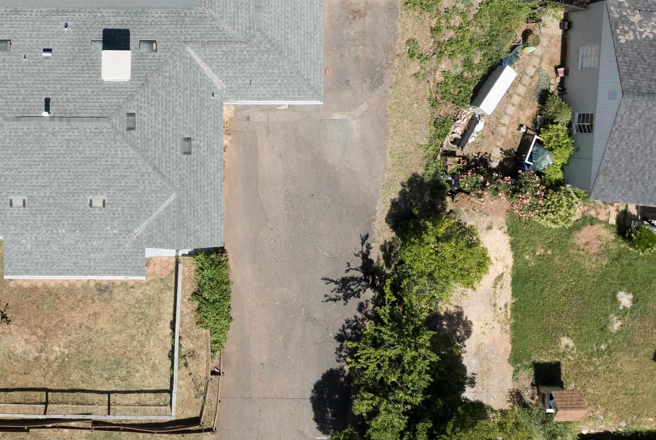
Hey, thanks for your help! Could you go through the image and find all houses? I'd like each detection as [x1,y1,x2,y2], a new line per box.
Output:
[563,0,656,239]
[0,0,325,282]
